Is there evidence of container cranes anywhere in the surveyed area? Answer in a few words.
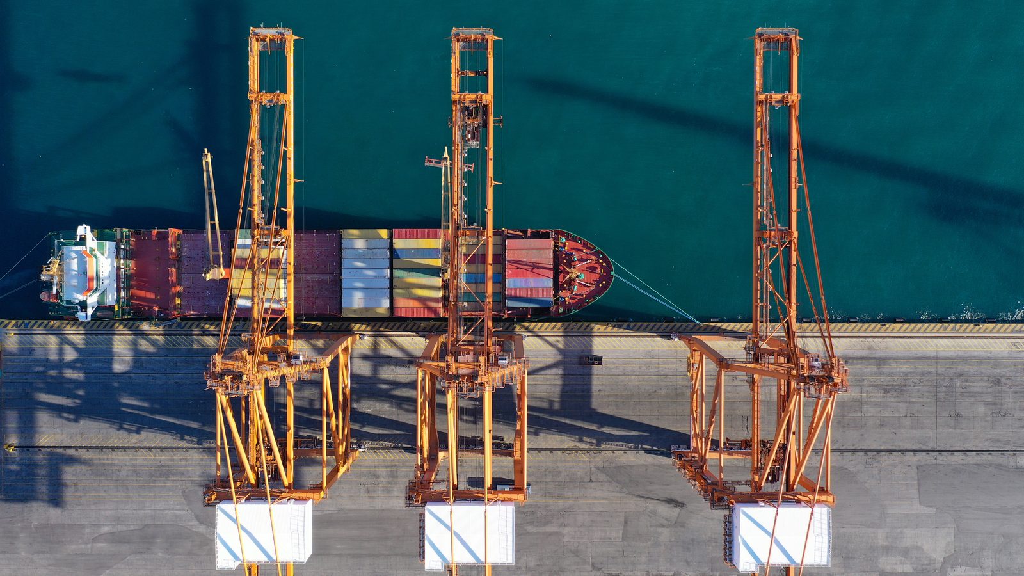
Yes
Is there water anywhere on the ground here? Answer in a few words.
Yes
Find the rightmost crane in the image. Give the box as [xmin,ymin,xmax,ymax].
[672,25,852,576]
